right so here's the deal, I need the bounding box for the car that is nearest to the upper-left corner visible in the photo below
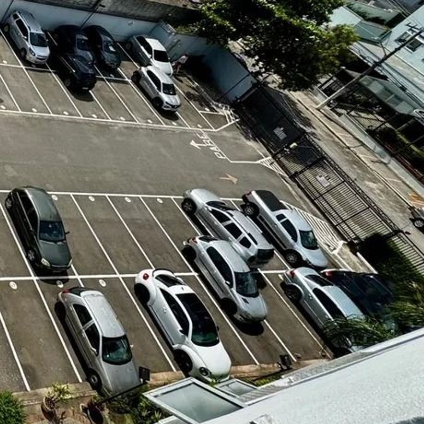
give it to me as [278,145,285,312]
[6,14,50,61]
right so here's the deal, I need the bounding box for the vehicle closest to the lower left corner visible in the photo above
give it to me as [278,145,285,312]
[56,290,138,399]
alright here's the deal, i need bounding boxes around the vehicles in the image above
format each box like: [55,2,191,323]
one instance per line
[323,271,411,335]
[235,192,316,268]
[56,290,138,399]
[183,240,263,323]
[283,268,368,353]
[51,22,96,62]
[7,189,70,271]
[188,191,270,263]
[134,68,182,112]
[131,36,177,78]
[82,29,120,67]
[136,281,227,381]
[6,14,50,61]
[54,43,103,94]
